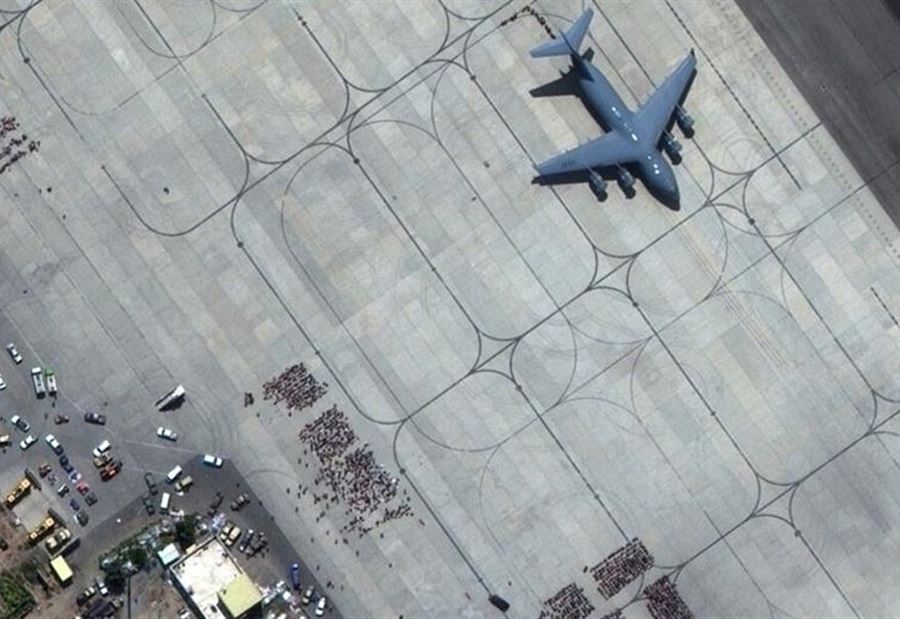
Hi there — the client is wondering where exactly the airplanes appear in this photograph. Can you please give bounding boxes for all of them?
[530,9,695,207]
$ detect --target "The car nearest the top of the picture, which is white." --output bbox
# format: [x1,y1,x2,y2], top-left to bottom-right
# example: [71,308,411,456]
[7,343,22,362]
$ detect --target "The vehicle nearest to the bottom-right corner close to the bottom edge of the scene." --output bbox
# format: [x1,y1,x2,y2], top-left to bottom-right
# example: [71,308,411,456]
[489,595,510,613]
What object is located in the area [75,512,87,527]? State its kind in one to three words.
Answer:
vehicle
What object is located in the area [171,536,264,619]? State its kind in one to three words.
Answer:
building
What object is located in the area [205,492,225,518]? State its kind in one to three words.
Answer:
vehicle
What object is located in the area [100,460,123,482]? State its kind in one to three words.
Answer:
truck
